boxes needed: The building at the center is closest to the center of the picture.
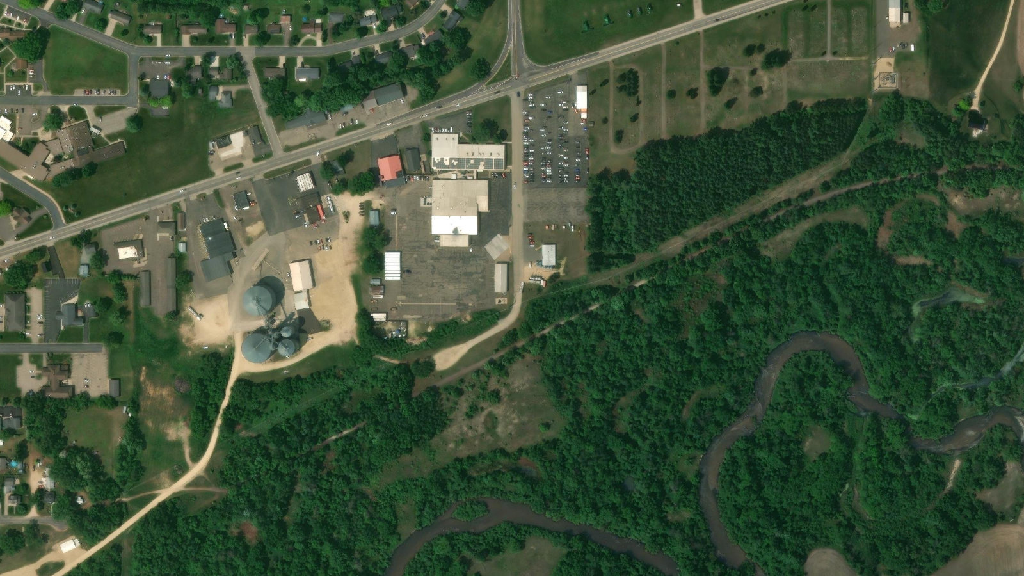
[495,264,507,292]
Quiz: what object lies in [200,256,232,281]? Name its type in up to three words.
building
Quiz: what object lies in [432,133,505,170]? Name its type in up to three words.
building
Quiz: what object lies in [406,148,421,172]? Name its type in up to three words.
barn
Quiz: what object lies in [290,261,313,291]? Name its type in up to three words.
shed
